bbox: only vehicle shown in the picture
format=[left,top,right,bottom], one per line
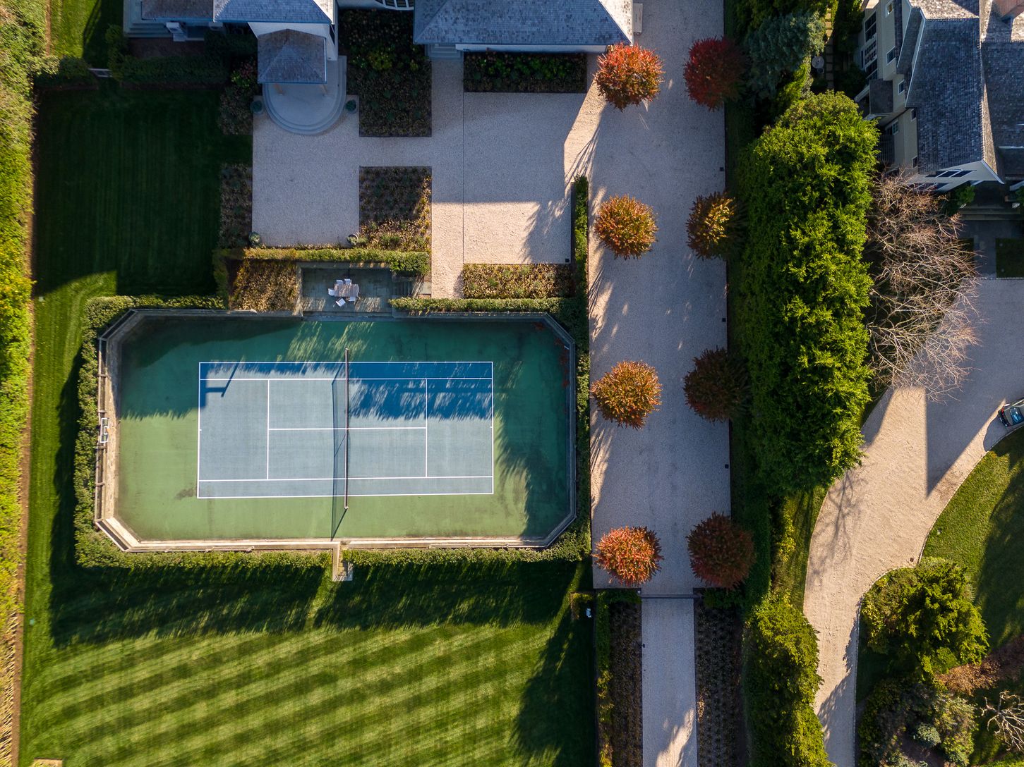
[1000,394,1024,426]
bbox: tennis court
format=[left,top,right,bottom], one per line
[119,320,566,542]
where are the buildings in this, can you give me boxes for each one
[139,0,634,94]
[852,0,1024,226]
